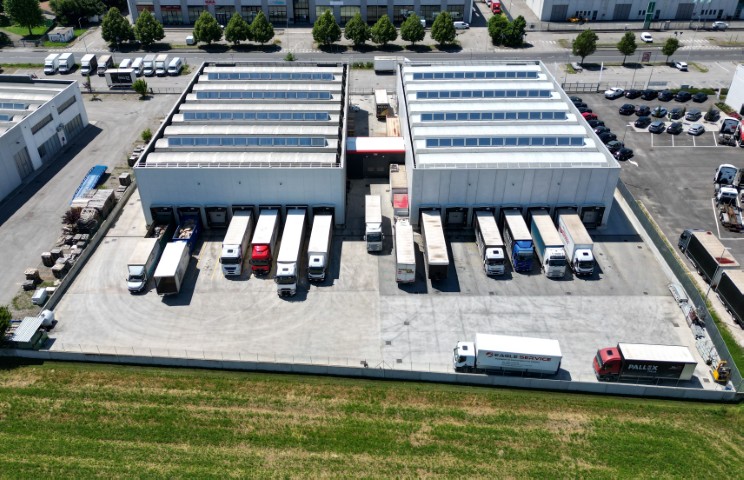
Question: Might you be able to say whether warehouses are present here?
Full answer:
Yes, there is a warehouse in the image.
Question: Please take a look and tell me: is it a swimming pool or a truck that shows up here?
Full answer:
Of the two, only a truck appears.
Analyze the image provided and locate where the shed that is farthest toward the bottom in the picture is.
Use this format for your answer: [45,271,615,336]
[9,317,50,348]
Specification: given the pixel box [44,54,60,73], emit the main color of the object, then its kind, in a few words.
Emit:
white vehicle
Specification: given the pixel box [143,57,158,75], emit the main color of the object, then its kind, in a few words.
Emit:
white vehicle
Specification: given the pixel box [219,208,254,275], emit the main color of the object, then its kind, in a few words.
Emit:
white truck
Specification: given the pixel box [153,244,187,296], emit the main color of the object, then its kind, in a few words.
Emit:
white trailer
